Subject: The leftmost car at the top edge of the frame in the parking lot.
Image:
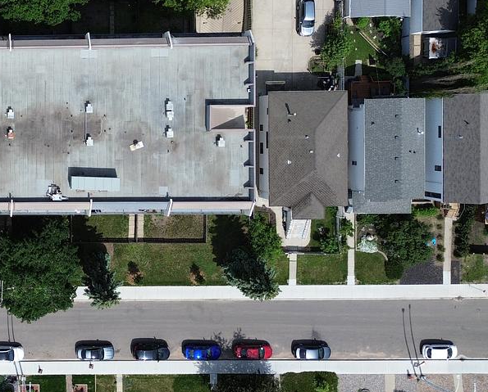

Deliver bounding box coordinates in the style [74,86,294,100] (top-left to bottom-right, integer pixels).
[298,0,320,35]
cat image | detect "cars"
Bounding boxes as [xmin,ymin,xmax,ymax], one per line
[133,345,171,364]
[293,345,332,363]
[184,345,222,363]
[422,345,459,363]
[235,345,273,363]
[298,0,320,35]
[78,345,115,364]
[0,346,24,364]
